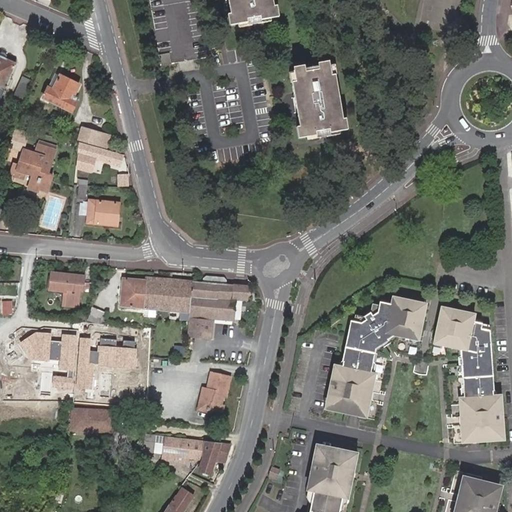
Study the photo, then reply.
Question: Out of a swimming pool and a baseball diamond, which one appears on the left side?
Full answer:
There is a swimming pool on the left side.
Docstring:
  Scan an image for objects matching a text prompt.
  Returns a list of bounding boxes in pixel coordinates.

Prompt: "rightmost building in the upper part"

[288,60,349,142]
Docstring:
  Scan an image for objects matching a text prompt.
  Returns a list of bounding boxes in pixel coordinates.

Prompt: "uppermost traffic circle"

[443,54,512,147]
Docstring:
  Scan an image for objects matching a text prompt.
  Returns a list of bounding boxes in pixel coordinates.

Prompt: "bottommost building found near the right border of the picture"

[452,474,504,512]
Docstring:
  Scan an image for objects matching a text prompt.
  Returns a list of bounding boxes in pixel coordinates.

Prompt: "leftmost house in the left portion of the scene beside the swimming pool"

[11,140,58,196]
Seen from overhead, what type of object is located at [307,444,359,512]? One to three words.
building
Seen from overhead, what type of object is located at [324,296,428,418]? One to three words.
building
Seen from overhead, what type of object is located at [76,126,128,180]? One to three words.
house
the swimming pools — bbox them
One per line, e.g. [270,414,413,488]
[39,192,67,231]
